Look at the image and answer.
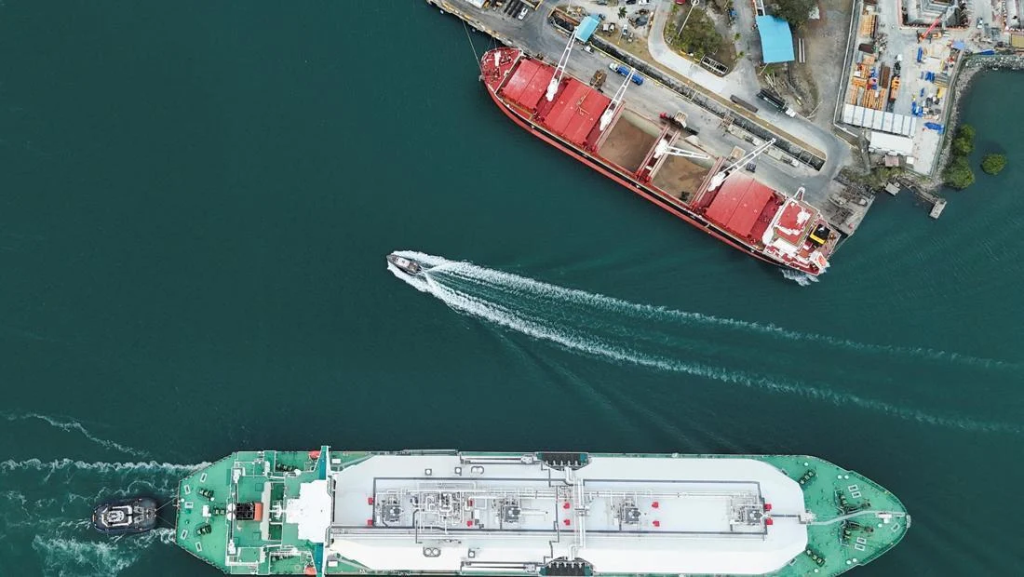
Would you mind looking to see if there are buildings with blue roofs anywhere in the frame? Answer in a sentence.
Yes, the image includes a building with a blue roof.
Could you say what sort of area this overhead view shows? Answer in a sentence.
This looks like a port.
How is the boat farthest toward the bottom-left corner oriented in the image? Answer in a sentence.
In this picture, the boat farthest toward the bottom-left corner lies from left to right.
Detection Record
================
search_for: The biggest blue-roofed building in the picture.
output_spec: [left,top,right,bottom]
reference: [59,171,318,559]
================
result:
[753,16,794,67]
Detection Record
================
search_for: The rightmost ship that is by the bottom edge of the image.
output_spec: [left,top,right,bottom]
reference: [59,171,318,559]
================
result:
[171,446,912,577]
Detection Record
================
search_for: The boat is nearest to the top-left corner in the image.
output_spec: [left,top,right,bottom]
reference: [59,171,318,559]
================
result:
[388,254,423,276]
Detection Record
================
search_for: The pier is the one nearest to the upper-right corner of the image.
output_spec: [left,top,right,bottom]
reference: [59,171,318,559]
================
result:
[897,180,947,218]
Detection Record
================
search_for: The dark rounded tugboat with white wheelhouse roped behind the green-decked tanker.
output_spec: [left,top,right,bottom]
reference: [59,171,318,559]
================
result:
[89,498,161,534]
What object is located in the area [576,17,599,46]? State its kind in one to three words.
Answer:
shed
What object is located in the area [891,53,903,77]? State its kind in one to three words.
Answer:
vehicle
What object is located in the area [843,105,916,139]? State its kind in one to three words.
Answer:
shed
